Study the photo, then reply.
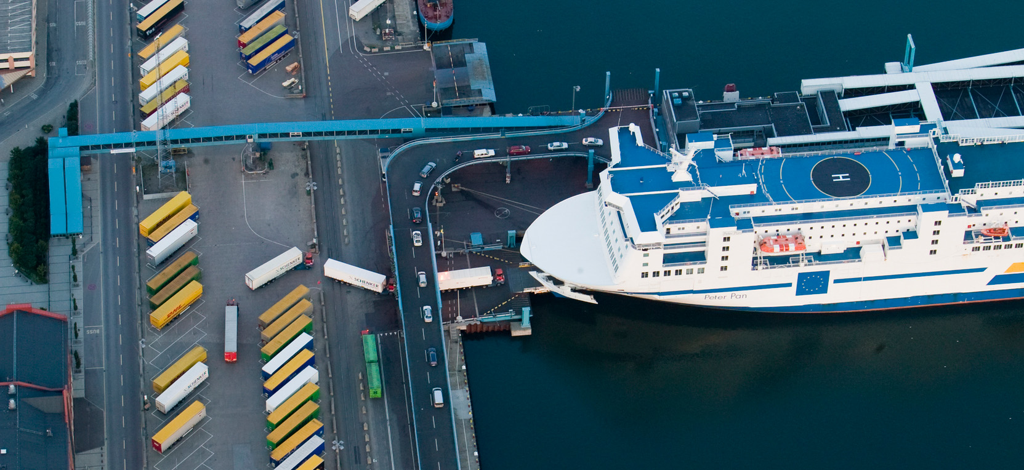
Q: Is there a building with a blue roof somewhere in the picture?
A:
Yes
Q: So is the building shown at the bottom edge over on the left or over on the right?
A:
left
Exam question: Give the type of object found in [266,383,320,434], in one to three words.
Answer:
trailer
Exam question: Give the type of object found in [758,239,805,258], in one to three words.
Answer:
boat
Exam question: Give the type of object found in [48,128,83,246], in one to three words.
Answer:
building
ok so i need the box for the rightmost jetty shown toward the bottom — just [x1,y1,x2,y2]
[510,320,532,340]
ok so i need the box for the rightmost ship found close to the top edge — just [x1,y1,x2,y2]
[418,0,454,38]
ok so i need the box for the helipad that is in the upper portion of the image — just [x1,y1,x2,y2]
[810,156,872,197]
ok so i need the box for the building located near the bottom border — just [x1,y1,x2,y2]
[0,299,75,470]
